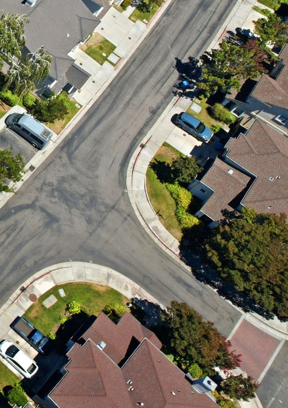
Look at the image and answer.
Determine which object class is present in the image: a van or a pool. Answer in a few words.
van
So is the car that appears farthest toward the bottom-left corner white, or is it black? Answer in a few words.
white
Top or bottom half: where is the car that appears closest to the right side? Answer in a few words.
top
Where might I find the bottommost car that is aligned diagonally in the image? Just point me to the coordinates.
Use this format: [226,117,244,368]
[0,338,40,381]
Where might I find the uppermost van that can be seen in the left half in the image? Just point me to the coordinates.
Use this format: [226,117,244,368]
[5,115,54,150]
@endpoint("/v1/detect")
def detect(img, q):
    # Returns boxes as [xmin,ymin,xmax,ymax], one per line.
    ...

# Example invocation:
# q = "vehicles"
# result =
[5,115,54,150]
[0,338,40,381]
[171,111,212,141]
[5,309,54,360]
